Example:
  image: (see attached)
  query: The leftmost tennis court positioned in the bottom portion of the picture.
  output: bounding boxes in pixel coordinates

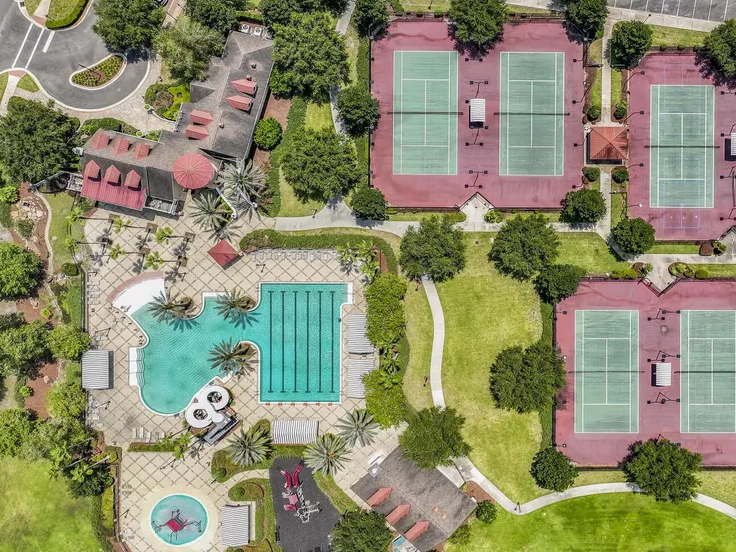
[555,279,660,467]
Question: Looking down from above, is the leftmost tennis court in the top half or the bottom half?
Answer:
top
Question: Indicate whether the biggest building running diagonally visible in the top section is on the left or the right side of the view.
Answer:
left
